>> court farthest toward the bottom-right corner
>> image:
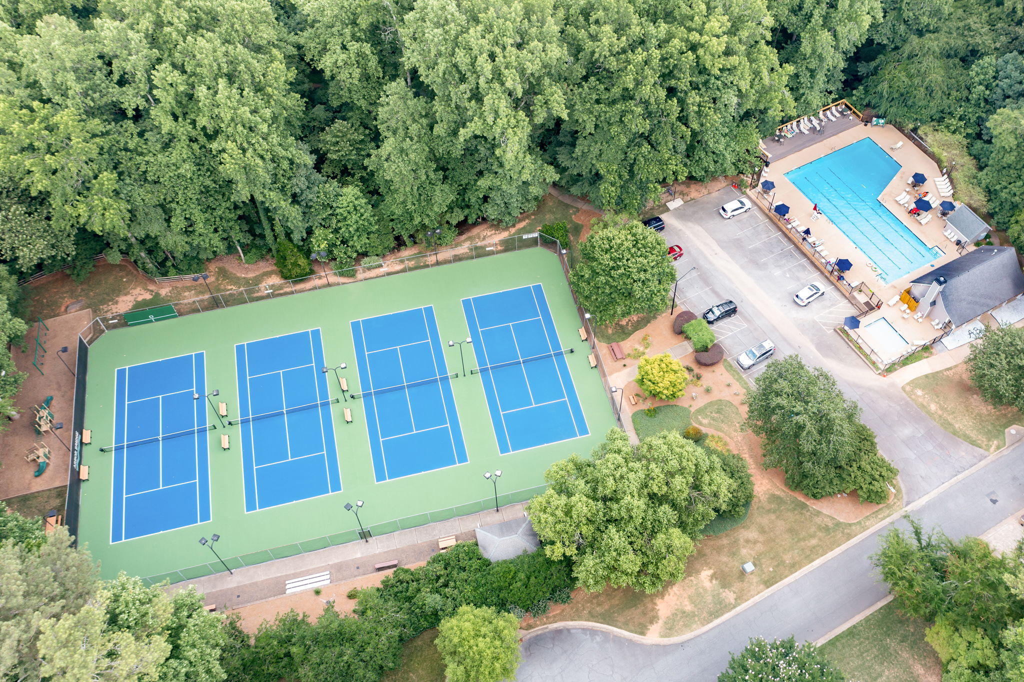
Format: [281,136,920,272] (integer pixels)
[461,283,590,455]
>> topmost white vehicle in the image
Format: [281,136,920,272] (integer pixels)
[720,199,754,219]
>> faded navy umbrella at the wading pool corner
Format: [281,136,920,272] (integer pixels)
[841,315,862,336]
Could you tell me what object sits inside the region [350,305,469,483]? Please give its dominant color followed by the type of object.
blue tennis court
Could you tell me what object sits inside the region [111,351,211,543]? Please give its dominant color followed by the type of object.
blue tennis court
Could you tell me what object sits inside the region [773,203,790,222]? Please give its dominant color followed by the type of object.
blue umbrella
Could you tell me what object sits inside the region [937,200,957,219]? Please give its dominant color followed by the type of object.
blue umbrella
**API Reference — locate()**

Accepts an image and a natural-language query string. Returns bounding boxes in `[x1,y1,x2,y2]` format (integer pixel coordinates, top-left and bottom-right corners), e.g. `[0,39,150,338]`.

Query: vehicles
[720,199,754,219]
[655,245,686,266]
[703,300,741,325]
[738,341,777,370]
[795,282,828,307]
[638,216,666,234]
